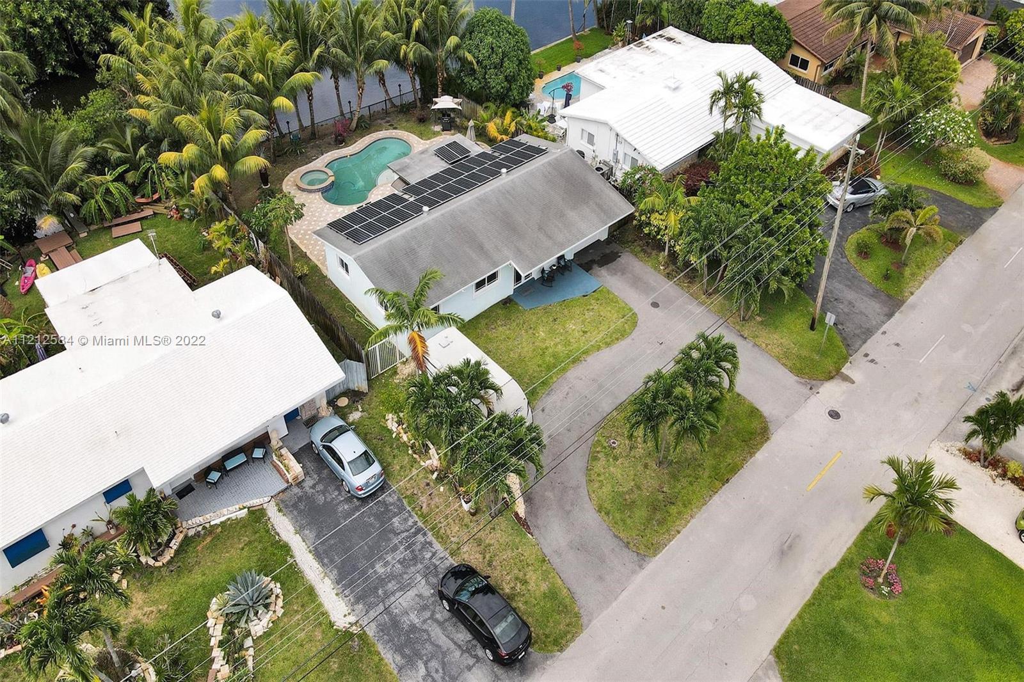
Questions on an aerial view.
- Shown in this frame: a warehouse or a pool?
pool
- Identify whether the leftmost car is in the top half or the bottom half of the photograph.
bottom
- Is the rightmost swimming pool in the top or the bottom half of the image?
top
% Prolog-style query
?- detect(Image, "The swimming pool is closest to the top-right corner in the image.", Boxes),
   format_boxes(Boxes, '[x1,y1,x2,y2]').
[539,60,598,99]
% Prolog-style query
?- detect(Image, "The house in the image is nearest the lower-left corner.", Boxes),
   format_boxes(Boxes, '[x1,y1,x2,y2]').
[0,239,346,593]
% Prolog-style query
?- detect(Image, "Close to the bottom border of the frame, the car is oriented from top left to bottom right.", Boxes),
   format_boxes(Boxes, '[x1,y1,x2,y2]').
[440,562,536,671]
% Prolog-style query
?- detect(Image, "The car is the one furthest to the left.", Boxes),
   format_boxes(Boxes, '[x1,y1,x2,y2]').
[309,414,387,500]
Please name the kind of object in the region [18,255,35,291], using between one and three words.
boat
